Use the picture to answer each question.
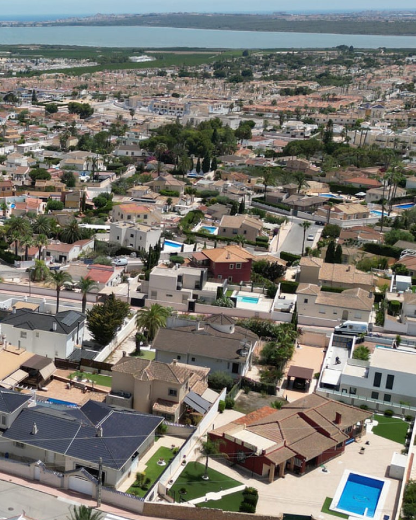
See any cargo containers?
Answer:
No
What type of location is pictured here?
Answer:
residential area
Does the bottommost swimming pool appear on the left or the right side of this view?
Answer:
right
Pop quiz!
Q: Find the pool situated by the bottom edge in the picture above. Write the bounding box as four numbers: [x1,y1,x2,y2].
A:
[325,468,391,520]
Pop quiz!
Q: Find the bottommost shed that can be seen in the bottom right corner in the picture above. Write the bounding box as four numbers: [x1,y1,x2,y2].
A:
[389,460,412,484]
